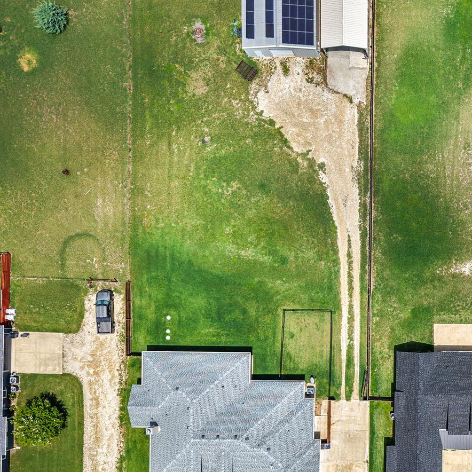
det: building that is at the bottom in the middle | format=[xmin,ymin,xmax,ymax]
[127,350,320,472]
